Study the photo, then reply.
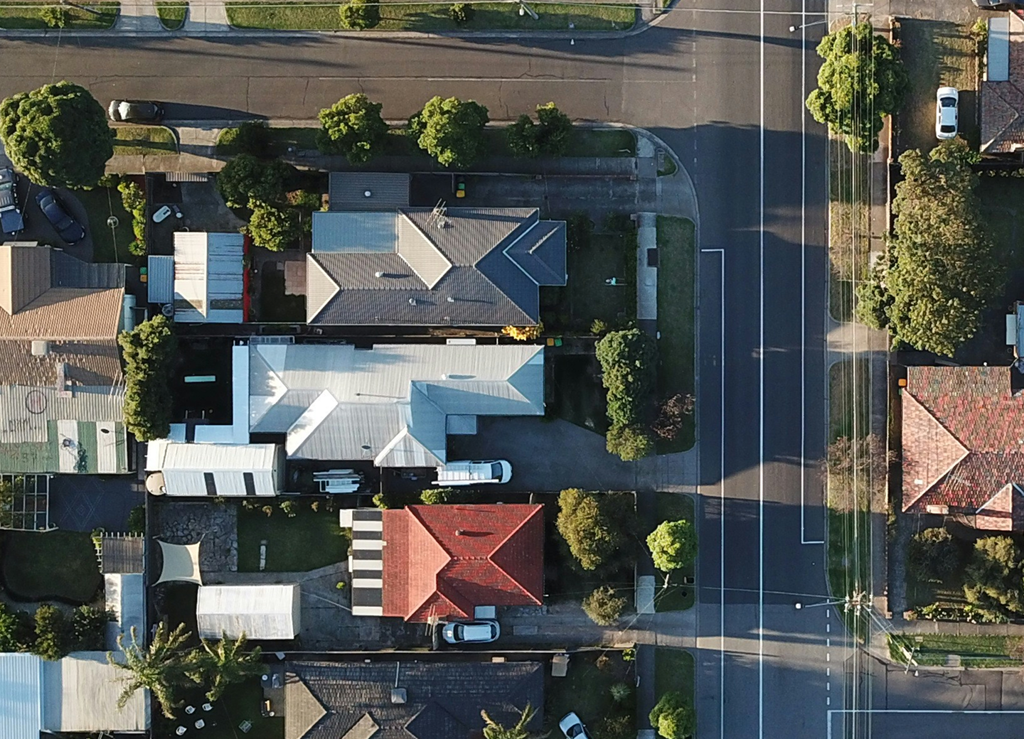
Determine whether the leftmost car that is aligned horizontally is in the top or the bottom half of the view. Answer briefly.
top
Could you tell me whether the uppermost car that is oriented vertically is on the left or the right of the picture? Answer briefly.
right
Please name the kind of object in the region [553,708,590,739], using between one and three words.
car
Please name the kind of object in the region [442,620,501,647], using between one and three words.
car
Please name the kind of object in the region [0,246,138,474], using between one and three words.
house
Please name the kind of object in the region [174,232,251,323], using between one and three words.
building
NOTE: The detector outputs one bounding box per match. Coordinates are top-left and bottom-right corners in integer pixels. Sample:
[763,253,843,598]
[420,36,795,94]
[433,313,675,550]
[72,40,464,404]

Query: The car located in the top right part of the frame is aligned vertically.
[934,83,960,140]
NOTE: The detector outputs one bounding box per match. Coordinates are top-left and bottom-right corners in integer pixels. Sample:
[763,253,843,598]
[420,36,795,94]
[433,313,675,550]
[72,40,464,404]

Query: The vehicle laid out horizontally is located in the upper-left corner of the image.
[107,97,167,124]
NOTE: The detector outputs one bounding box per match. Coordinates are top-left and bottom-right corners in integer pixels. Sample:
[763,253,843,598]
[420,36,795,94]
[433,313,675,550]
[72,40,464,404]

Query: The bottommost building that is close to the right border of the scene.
[901,361,1024,531]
